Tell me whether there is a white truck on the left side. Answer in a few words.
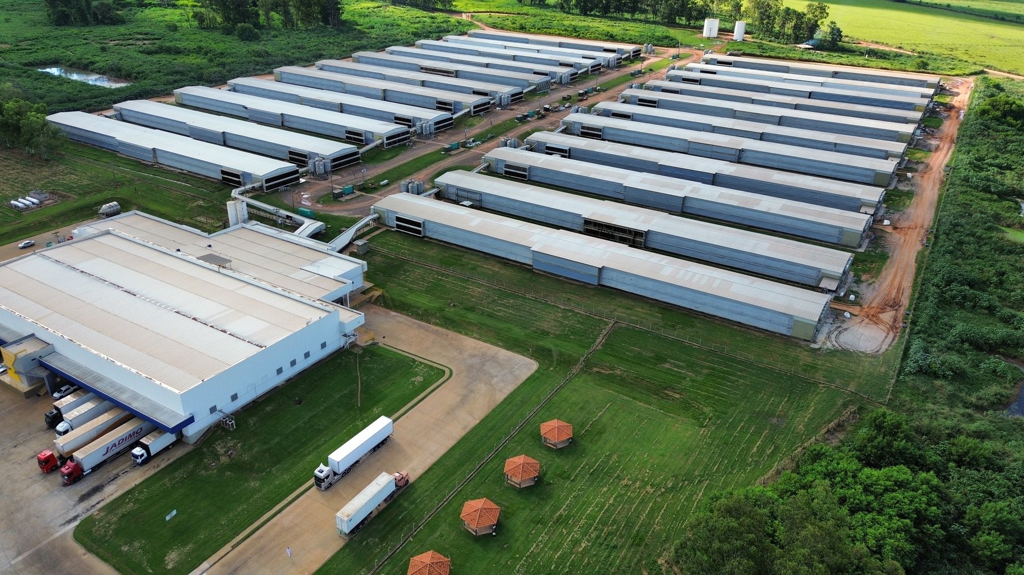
Yes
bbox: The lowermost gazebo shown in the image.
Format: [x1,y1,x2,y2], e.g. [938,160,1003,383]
[407,549,450,575]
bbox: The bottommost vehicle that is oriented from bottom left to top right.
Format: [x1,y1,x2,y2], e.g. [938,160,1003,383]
[335,464,413,534]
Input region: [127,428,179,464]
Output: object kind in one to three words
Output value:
truck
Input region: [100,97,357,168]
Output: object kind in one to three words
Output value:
barn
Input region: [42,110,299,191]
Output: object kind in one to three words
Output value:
barn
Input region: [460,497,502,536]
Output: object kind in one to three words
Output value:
gazebo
